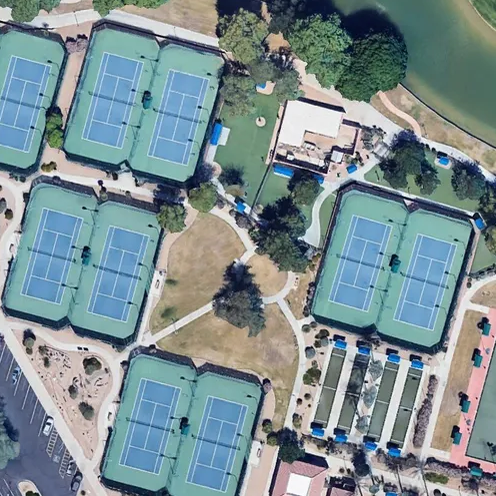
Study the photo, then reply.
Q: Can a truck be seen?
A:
No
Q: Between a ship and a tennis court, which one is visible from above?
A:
tennis court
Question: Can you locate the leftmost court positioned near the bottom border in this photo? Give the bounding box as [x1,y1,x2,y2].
[102,352,198,496]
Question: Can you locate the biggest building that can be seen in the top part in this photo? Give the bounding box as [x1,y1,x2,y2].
[271,100,358,179]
